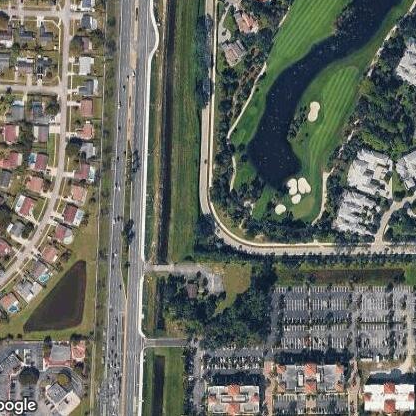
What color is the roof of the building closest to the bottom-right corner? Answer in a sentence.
The roof over the building closest to the bottom-right corner appears white.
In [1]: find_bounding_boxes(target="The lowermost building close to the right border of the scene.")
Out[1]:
[363,384,414,412]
